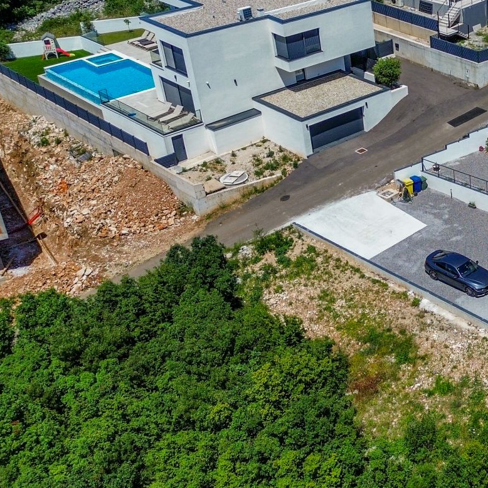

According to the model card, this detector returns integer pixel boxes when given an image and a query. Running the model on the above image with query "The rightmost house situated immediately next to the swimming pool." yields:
[105,0,415,163]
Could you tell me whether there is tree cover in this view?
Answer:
Yes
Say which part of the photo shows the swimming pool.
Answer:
top left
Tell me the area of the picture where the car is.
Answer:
right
